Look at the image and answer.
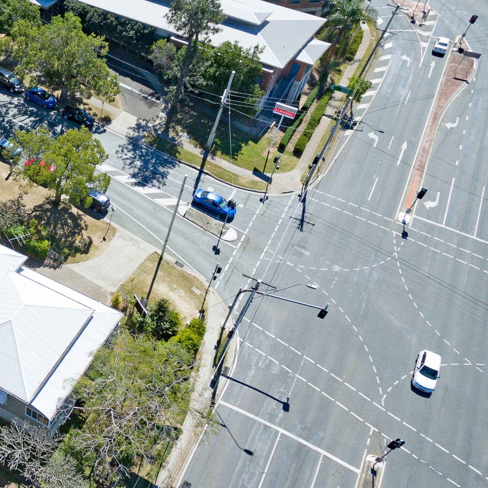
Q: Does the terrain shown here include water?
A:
No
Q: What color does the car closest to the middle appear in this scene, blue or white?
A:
blue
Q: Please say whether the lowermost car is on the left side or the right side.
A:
right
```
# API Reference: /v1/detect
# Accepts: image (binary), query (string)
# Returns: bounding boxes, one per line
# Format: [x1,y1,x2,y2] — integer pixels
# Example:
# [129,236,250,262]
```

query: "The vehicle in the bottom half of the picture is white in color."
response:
[409,349,445,397]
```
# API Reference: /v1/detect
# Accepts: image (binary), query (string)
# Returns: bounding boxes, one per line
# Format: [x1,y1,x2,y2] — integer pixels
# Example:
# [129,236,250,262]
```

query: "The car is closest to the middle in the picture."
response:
[192,190,236,219]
